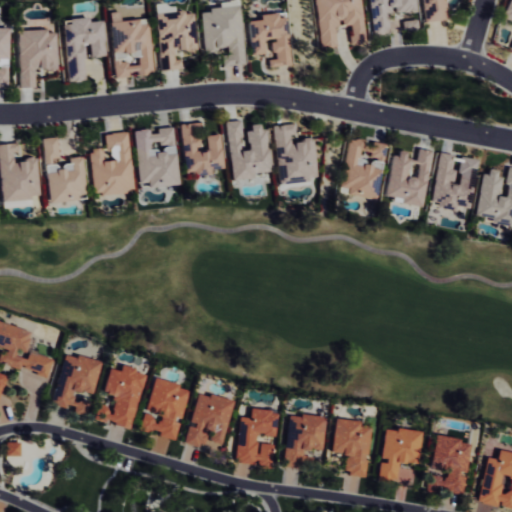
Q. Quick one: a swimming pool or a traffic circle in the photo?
swimming pool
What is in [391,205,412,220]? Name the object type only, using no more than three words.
swimming pool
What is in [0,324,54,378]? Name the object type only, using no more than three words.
house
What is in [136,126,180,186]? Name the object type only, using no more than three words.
house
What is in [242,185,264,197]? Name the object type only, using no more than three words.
swimming pool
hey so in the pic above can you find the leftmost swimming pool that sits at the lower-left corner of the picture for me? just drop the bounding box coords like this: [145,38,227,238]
[20,458,43,487]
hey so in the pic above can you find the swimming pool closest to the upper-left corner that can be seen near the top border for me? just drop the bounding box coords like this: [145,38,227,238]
[24,4,50,20]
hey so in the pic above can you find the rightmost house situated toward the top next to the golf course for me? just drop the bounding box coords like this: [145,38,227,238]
[478,170,512,226]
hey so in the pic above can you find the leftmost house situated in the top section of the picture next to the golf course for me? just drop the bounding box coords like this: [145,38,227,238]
[0,142,39,208]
